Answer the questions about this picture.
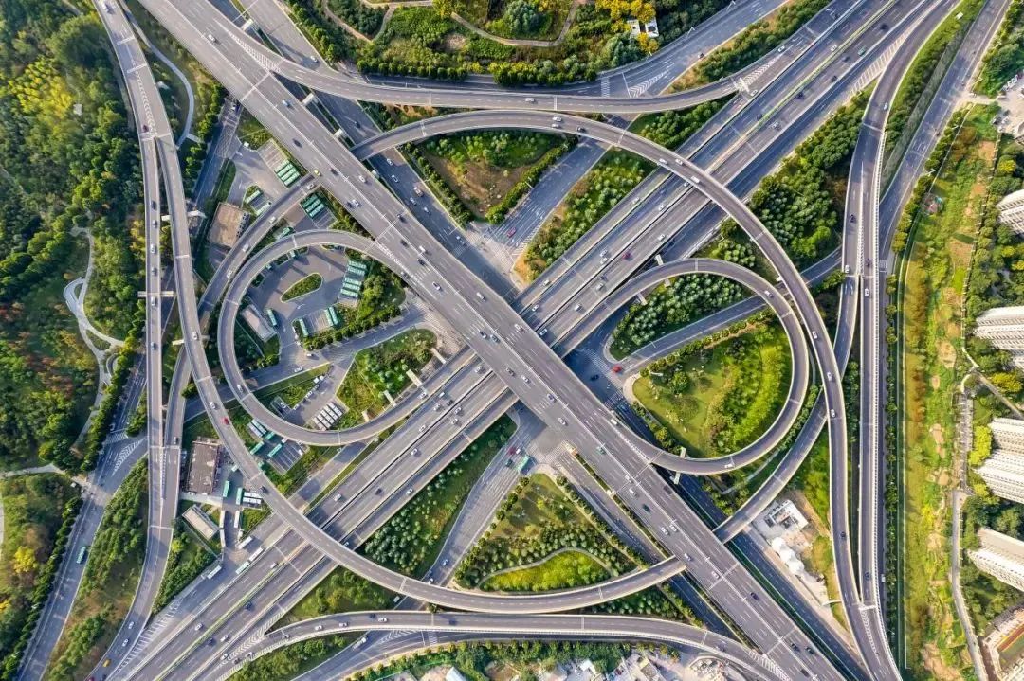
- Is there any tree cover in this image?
Yes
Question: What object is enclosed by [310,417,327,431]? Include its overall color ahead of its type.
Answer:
white vehicle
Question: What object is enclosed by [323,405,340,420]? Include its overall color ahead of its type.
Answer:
white vehicle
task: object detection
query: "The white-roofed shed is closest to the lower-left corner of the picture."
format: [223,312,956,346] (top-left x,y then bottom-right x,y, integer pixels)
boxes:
[183,506,217,539]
